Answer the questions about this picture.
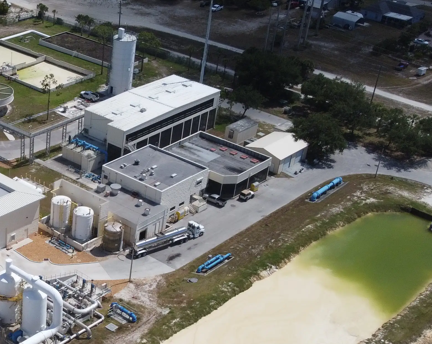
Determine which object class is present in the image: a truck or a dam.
truck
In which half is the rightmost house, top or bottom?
top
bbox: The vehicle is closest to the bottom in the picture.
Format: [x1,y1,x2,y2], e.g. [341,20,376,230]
[123,217,205,255]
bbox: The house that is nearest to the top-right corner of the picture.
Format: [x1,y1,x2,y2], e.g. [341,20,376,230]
[363,3,430,34]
